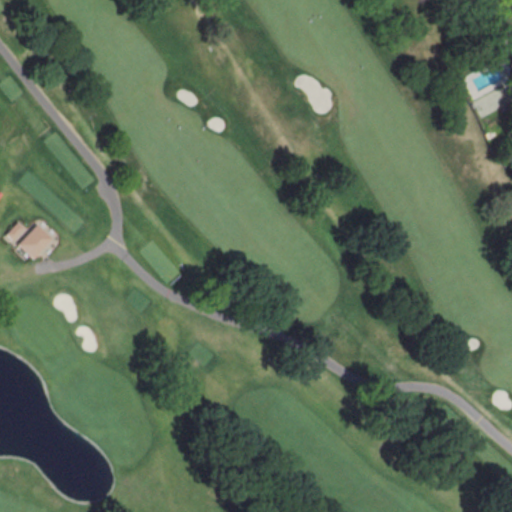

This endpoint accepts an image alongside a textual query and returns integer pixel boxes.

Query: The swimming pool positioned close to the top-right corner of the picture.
[465,64,502,100]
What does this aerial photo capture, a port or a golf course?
golf course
